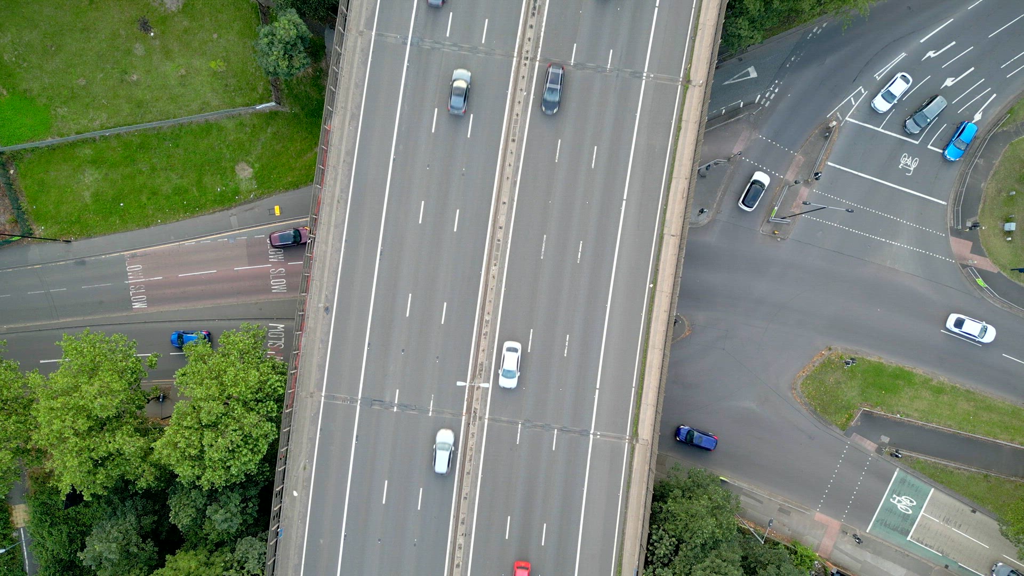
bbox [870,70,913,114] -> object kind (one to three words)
car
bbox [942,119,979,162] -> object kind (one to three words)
car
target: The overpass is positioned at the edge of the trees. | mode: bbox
[275,0,722,576]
